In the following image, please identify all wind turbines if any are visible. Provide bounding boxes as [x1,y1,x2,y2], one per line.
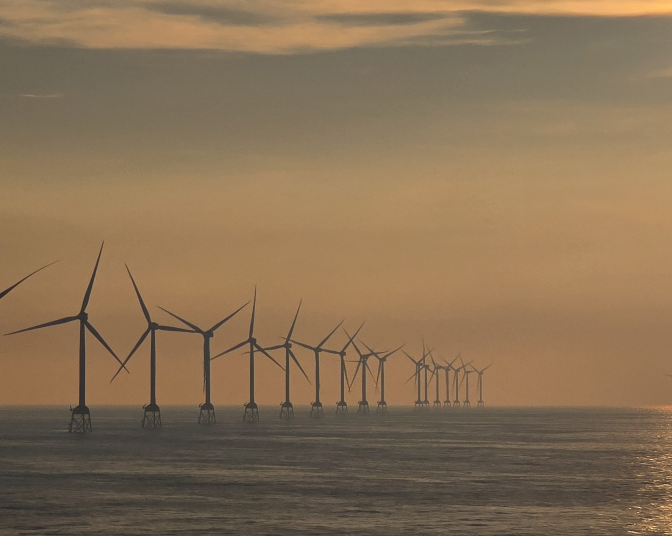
[110,262,207,428]
[3,238,126,433]
[458,355,479,408]
[241,298,308,420]
[155,298,246,426]
[0,260,65,301]
[423,343,452,410]
[467,363,489,408]
[409,340,436,410]
[310,321,360,416]
[438,356,471,409]
[396,348,434,412]
[342,326,386,414]
[279,316,339,417]
[430,351,456,409]
[209,285,283,422]
[357,341,400,413]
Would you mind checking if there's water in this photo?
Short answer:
Yes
